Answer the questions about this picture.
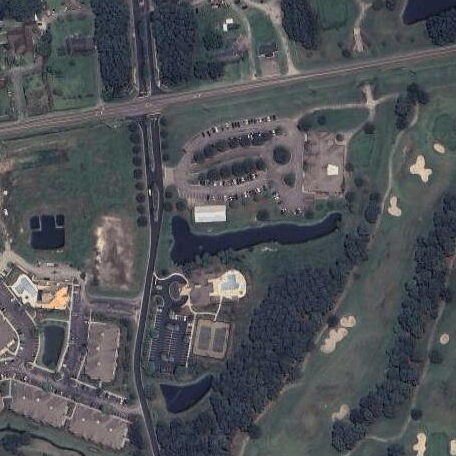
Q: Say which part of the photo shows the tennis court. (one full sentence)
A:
The tennis court sits in the bottom section of the image.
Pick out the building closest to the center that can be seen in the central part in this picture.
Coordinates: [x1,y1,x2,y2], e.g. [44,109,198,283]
[194,205,226,222]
